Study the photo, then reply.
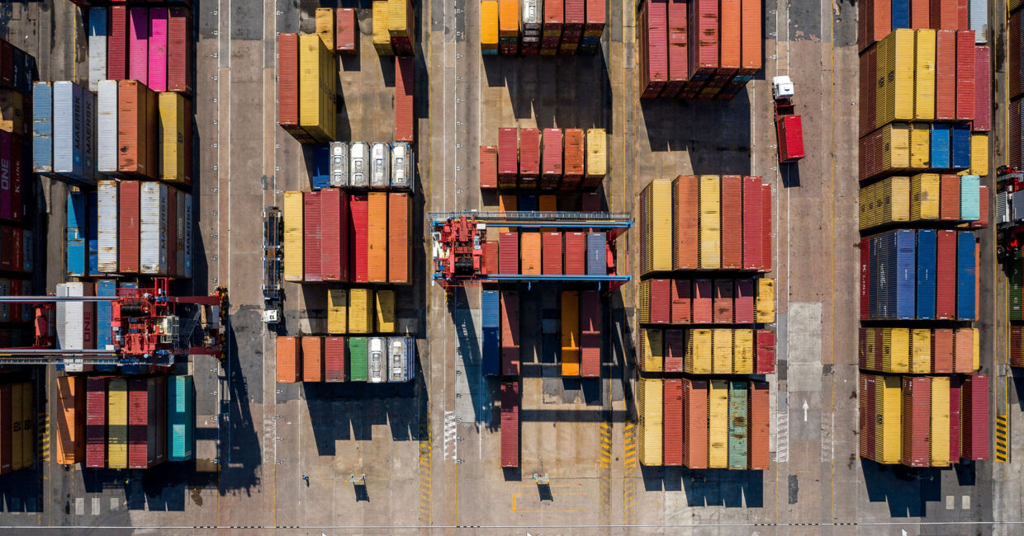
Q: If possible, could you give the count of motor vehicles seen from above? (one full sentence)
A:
The picture shows 2 motor vehicles.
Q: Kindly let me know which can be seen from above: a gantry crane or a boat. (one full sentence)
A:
I can see a gantry crane in this picture.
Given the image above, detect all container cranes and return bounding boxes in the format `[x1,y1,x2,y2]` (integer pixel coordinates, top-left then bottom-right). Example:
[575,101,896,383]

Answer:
[995,167,1024,252]
[0,278,227,371]
[424,210,636,301]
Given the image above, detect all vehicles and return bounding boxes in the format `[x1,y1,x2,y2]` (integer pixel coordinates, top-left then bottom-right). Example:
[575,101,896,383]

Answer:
[773,75,800,165]
[258,206,279,324]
